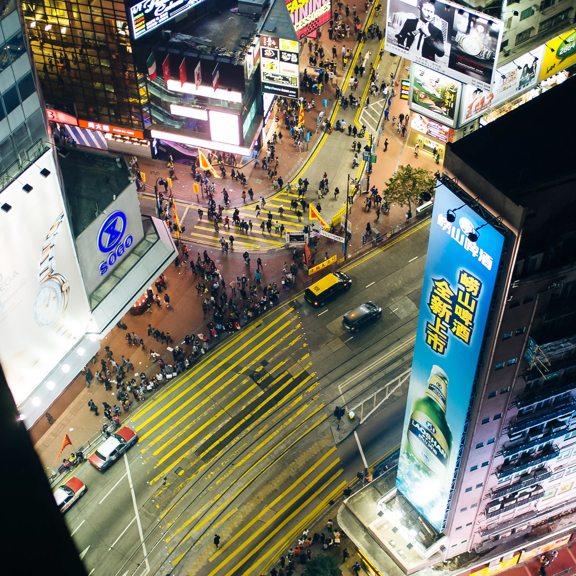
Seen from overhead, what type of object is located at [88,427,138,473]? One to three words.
car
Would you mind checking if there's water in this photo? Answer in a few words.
No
